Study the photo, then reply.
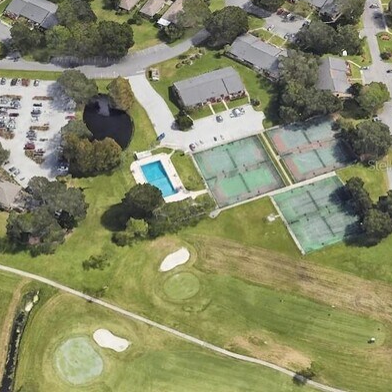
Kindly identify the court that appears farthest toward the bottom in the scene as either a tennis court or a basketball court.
tennis court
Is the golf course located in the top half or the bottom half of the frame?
bottom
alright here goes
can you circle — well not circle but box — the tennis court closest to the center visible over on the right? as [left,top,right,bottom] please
[190,136,288,206]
